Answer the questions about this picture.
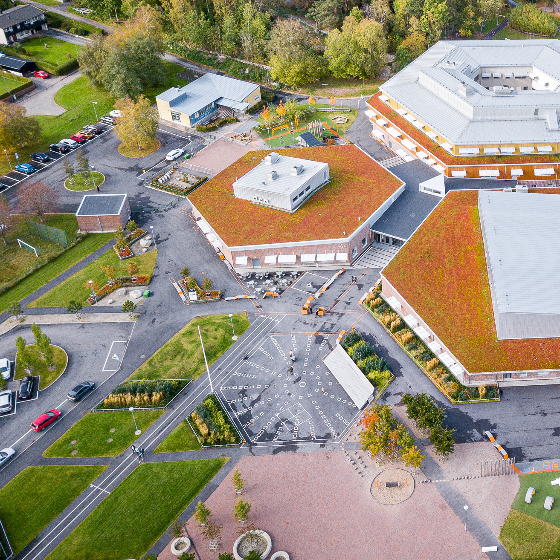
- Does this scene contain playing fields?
Yes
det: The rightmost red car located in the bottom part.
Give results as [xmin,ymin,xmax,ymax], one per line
[28,408,64,434]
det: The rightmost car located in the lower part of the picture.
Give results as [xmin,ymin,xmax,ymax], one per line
[64,379,96,403]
